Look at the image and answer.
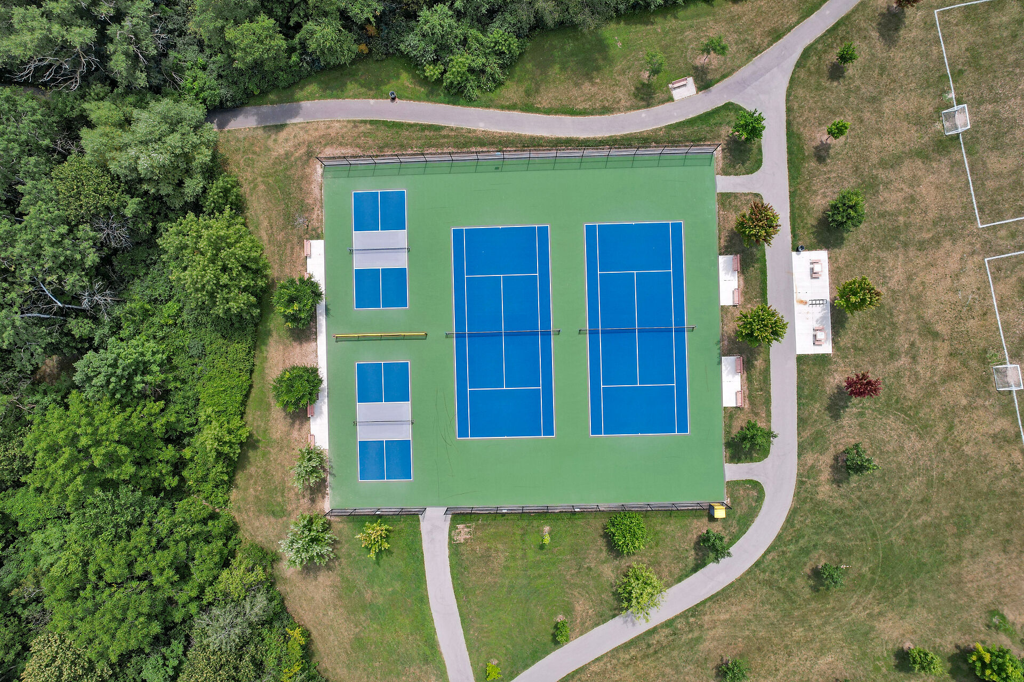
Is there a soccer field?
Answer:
Yes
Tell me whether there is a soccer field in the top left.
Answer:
No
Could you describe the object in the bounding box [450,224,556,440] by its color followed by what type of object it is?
blue tennis court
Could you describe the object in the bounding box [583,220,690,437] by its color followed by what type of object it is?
blue tennis court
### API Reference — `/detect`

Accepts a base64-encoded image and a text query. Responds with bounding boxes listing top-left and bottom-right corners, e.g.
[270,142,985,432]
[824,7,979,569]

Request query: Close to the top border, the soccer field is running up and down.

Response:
[935,0,1024,227]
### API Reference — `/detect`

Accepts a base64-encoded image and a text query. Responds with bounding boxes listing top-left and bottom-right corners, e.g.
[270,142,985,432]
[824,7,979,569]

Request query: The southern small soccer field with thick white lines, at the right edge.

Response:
[986,251,1024,445]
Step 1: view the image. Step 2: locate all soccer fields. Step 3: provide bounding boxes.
[986,251,1024,445]
[935,0,1024,227]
